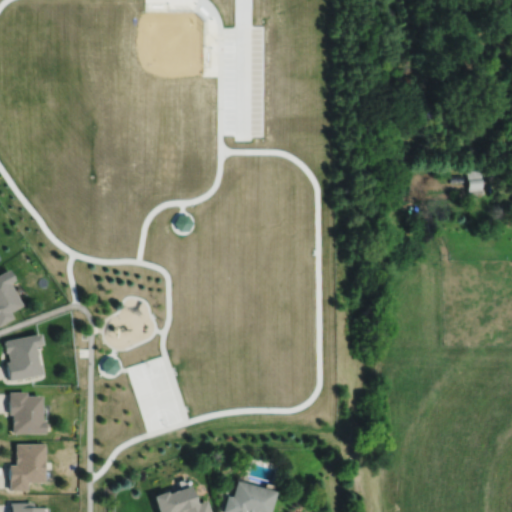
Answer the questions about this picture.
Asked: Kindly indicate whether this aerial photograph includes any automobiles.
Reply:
No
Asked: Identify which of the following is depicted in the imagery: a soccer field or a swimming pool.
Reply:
swimming pool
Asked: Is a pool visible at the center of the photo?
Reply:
No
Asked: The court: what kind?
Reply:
basketball court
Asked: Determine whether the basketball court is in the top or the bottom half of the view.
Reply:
bottom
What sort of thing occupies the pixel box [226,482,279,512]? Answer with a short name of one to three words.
house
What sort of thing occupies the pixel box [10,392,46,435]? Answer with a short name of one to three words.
house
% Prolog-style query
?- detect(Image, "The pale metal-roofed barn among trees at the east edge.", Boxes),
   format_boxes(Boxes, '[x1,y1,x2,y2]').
[469,173,486,196]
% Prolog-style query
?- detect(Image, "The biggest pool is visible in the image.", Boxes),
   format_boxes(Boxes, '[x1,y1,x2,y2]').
[246,461,275,490]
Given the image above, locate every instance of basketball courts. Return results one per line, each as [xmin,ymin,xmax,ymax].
[128,354,190,434]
